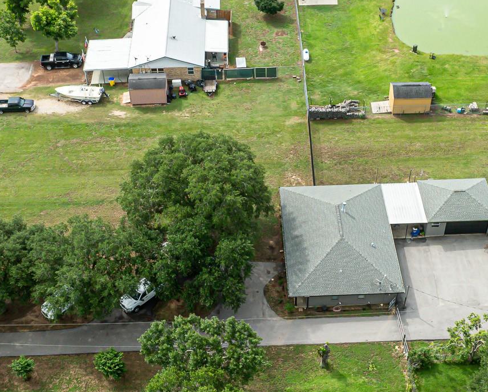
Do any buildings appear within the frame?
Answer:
Yes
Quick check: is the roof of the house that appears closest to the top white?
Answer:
Yes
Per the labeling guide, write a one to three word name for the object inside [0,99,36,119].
vehicle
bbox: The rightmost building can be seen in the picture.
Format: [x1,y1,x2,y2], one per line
[416,178,488,236]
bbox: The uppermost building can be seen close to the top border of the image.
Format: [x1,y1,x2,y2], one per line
[84,0,233,85]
